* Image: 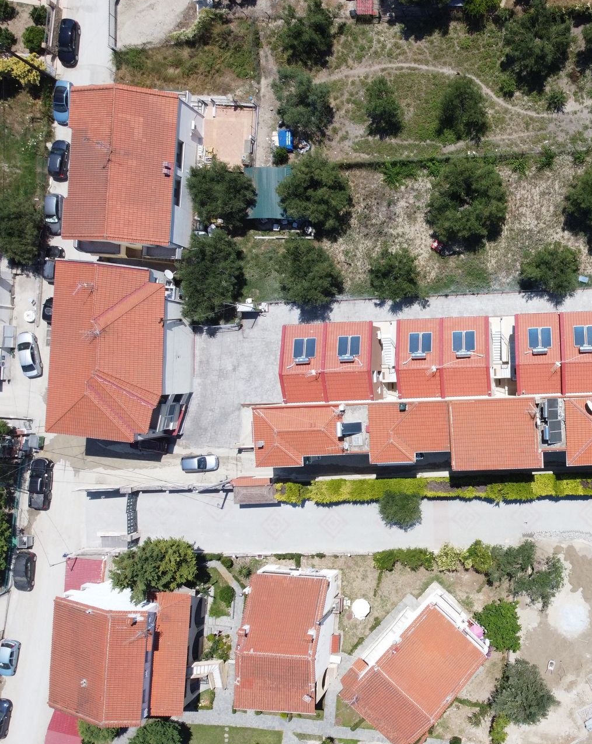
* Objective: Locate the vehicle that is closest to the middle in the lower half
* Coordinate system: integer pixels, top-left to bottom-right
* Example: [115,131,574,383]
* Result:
[179,452,222,474]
